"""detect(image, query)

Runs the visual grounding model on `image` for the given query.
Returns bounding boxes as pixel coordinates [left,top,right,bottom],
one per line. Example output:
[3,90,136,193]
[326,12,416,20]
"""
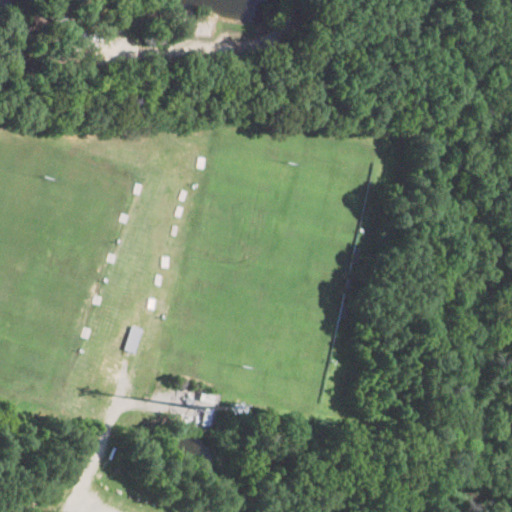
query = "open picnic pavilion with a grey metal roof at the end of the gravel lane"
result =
[123,324,144,354]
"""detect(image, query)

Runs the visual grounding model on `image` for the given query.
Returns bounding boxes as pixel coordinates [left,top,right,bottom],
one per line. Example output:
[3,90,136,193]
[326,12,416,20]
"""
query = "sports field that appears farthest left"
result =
[0,152,134,386]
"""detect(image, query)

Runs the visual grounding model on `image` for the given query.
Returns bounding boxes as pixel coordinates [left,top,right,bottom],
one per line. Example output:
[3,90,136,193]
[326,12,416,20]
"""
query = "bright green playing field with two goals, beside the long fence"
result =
[180,140,366,404]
